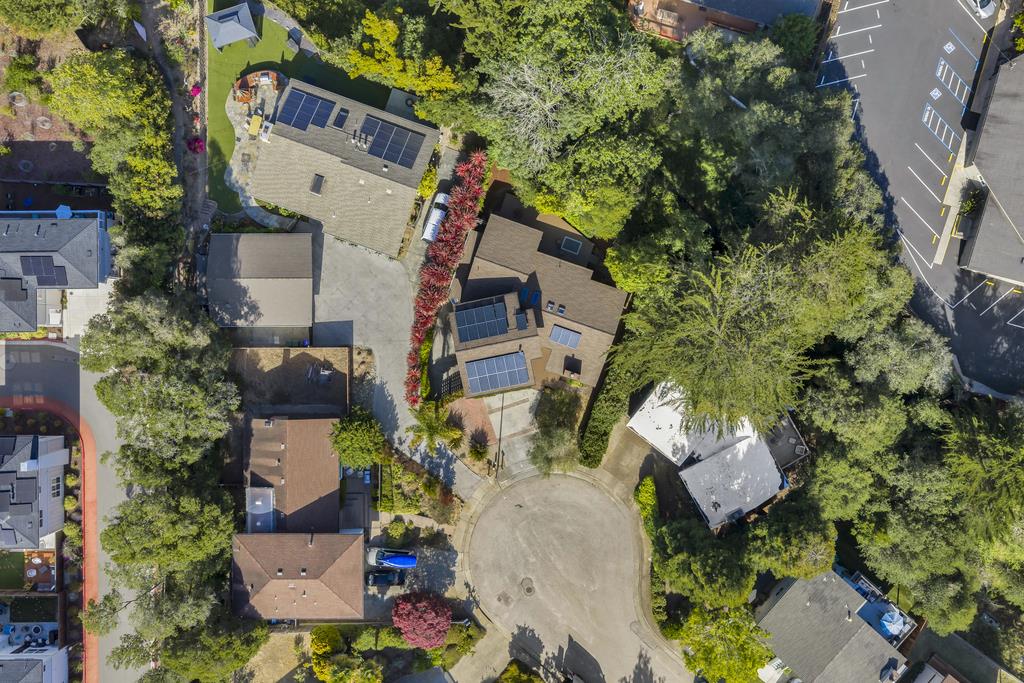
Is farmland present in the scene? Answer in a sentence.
No, the scene doesn't show any farmland.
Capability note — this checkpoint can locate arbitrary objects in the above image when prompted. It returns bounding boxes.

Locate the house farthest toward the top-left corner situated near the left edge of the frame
[0,219,116,332]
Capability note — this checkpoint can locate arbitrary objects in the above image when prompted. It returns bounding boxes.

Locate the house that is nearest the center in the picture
[449,214,622,398]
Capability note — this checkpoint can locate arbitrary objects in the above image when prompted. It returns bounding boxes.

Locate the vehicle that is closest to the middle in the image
[420,191,449,243]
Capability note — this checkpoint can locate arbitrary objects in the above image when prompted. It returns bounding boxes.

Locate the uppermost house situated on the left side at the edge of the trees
[251,79,439,260]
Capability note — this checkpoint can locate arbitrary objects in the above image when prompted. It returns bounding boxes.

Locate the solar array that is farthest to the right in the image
[550,325,581,349]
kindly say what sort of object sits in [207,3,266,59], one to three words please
gazebo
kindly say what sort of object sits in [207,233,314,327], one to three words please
building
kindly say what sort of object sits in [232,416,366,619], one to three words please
house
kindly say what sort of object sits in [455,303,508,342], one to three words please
solar array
